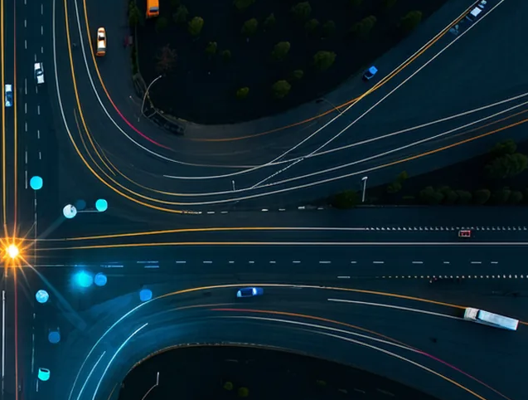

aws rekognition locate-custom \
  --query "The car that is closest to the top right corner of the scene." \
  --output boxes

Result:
[465,0,487,20]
